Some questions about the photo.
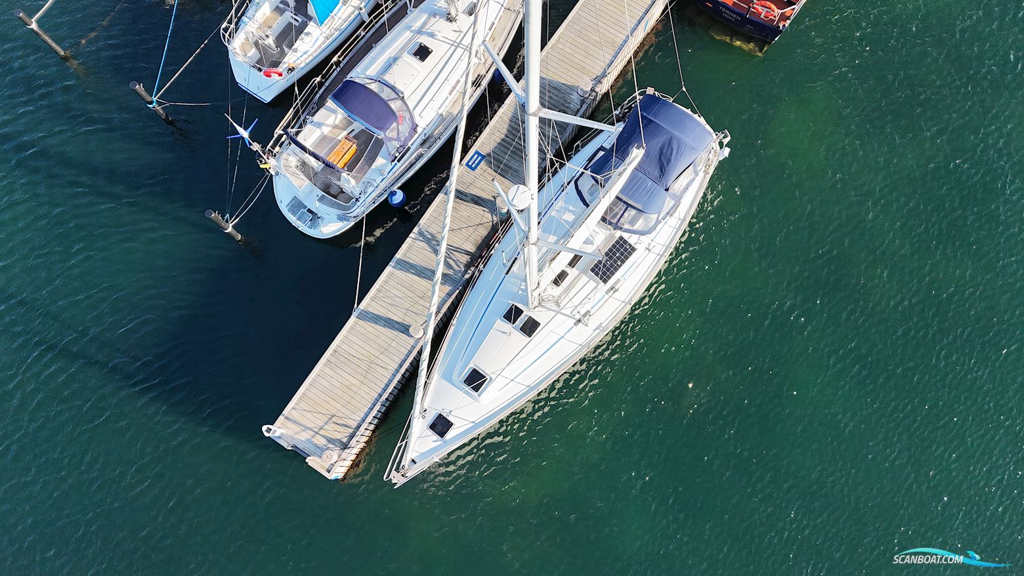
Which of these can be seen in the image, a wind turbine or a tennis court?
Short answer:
wind turbine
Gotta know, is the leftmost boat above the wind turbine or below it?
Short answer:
above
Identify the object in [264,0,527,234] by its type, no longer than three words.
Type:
boat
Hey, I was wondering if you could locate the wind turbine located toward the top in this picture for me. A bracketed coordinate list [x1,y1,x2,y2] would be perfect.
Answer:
[219,119,278,184]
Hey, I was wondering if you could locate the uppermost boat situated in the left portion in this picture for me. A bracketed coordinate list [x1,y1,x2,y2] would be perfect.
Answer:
[219,0,386,110]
